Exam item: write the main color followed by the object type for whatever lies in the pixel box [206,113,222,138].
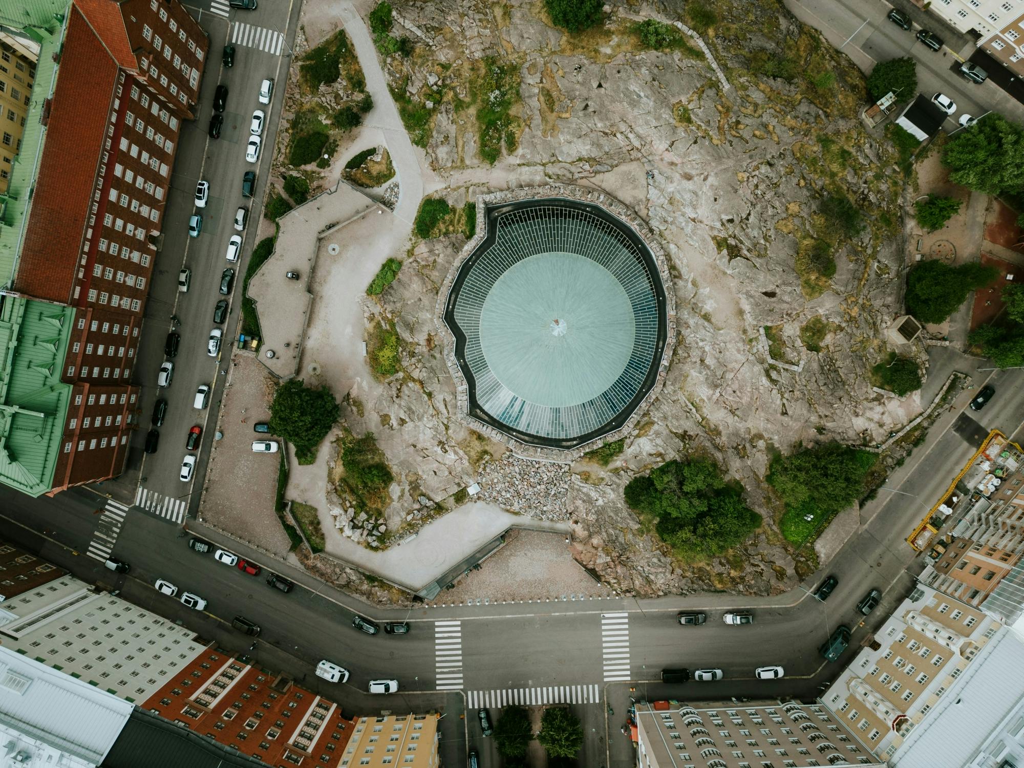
black car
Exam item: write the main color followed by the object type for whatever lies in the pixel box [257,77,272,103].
white car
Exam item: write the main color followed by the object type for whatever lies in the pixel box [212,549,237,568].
white car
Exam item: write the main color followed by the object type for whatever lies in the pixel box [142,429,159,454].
black car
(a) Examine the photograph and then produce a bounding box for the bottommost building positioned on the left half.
[338,713,439,768]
